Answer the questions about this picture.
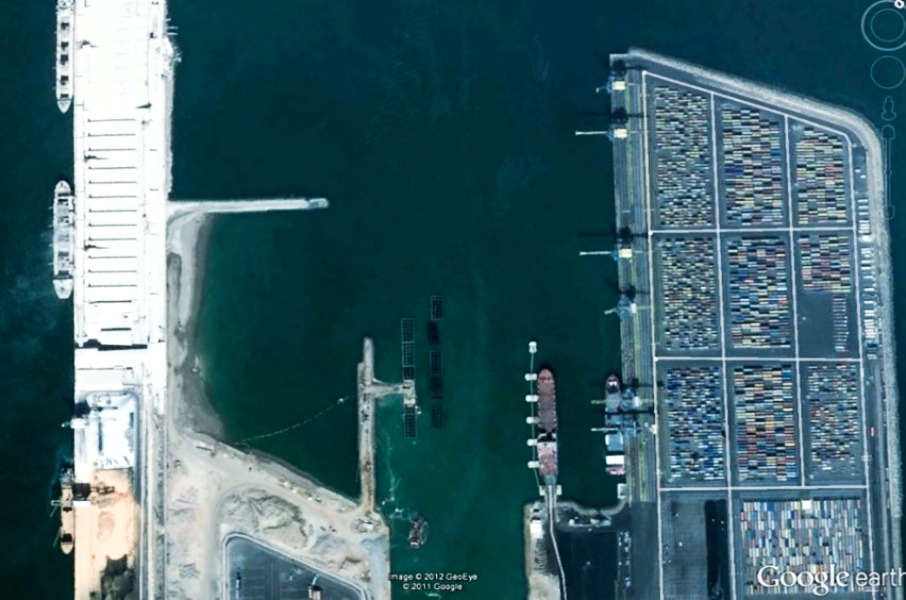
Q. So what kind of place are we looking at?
port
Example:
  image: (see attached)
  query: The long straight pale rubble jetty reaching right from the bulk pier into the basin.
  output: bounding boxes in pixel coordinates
[167,197,328,215]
